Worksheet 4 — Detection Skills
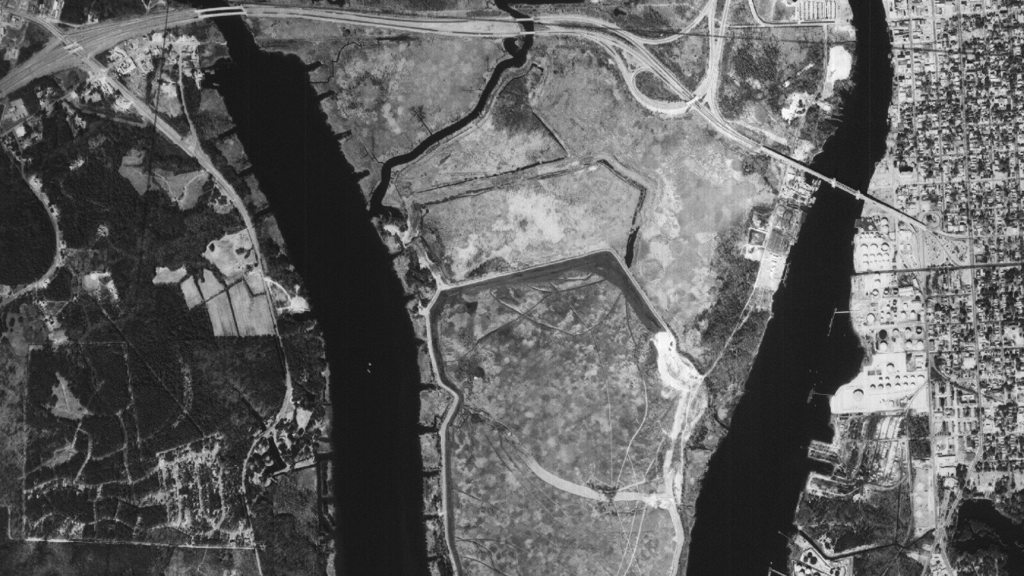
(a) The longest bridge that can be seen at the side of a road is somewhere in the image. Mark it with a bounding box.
[761,145,929,230]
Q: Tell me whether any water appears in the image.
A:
Yes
